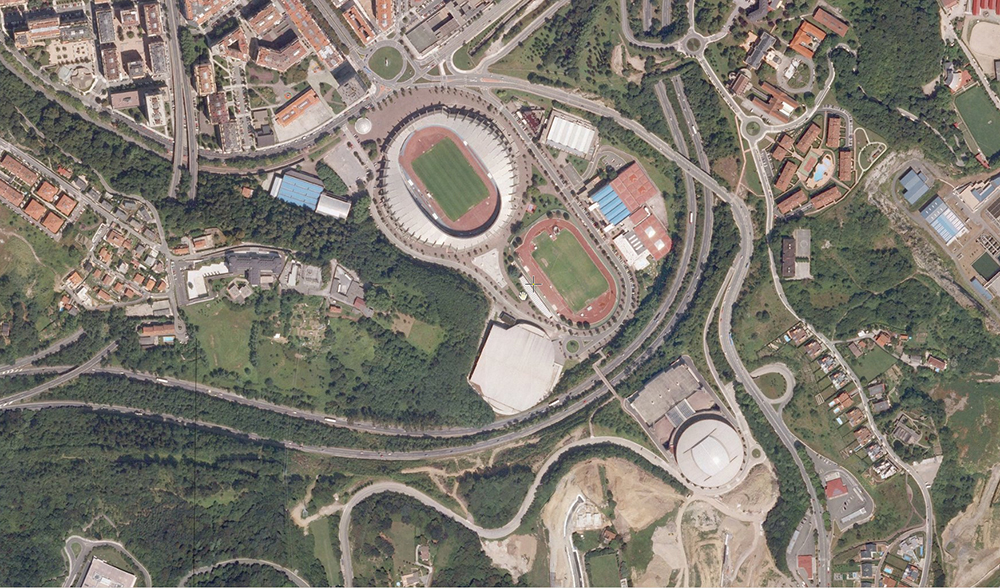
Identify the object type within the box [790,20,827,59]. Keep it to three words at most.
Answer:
building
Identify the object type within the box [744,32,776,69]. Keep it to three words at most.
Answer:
house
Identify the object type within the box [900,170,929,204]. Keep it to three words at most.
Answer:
building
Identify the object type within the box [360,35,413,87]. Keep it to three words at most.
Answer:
roundabout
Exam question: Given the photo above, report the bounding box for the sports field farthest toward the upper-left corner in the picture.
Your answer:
[411,138,489,223]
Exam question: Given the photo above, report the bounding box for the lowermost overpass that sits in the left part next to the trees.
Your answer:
[0,336,123,406]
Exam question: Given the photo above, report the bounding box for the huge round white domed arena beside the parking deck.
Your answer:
[676,419,744,487]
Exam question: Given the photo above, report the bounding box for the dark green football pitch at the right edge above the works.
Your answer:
[954,80,1000,159]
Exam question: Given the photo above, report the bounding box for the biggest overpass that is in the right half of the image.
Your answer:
[629,120,744,211]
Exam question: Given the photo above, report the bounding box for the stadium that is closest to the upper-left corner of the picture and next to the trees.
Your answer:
[382,107,519,252]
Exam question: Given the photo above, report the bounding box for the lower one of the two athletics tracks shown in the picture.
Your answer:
[515,215,621,326]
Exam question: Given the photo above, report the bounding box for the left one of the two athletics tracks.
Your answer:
[402,127,499,236]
